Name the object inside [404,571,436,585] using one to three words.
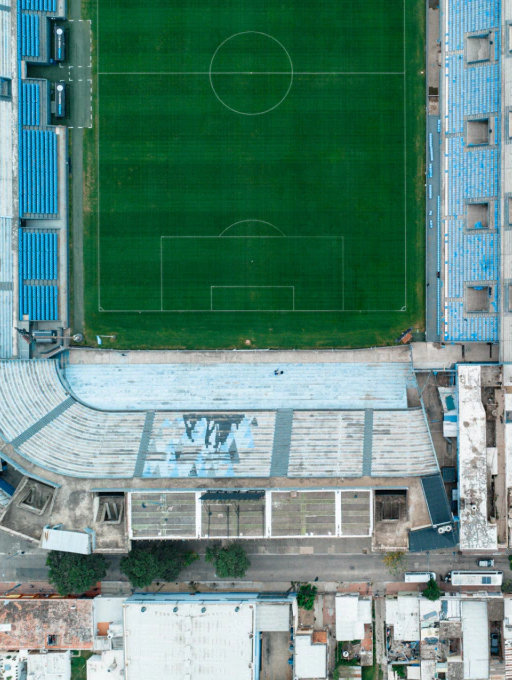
vehicle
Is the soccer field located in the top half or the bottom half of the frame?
top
